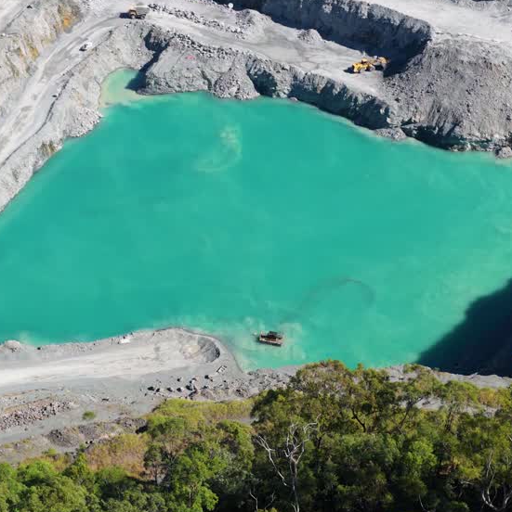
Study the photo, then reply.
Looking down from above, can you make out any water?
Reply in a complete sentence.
Yes, some water is visible.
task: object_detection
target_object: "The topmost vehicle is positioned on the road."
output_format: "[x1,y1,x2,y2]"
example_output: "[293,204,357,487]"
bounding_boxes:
[128,3,152,20]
